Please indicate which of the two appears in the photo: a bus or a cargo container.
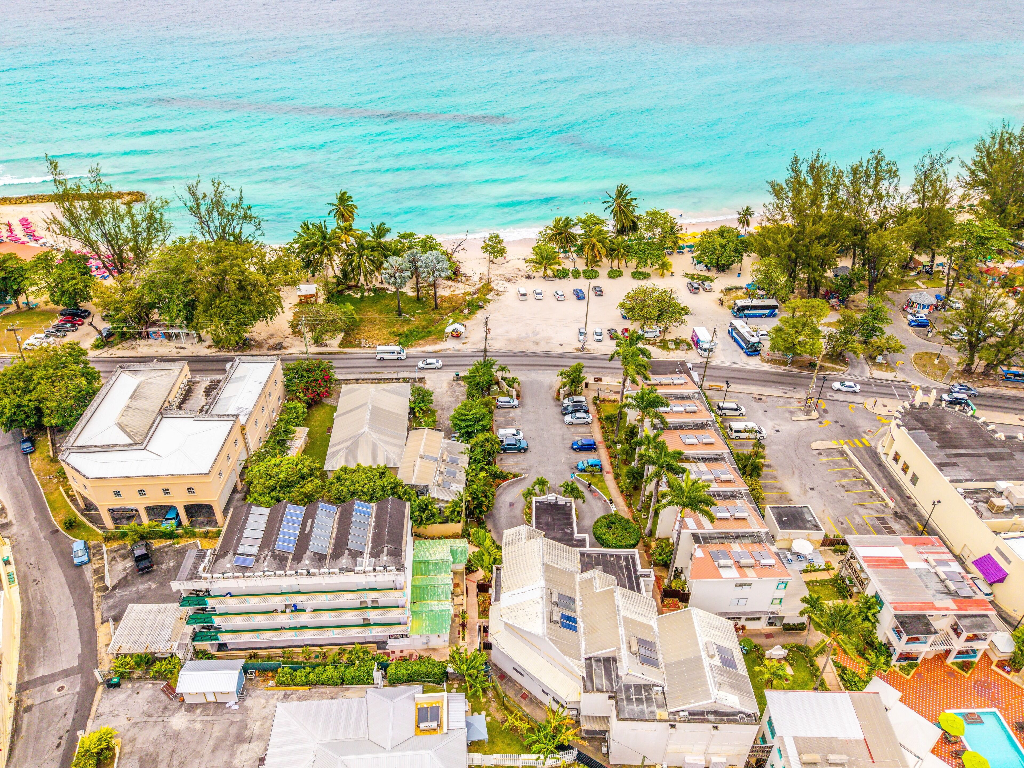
bus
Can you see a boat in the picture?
No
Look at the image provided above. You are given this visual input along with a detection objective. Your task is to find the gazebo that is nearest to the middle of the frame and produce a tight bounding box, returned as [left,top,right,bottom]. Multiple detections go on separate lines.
[445,323,467,342]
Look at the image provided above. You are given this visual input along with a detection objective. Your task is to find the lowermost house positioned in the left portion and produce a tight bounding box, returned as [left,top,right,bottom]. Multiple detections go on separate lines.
[264,684,468,768]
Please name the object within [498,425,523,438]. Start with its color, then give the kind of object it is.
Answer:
white vehicle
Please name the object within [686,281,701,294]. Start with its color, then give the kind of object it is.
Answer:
gray vehicle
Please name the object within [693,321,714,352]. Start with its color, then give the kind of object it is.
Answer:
white truck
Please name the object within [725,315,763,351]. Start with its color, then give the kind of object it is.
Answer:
white bus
